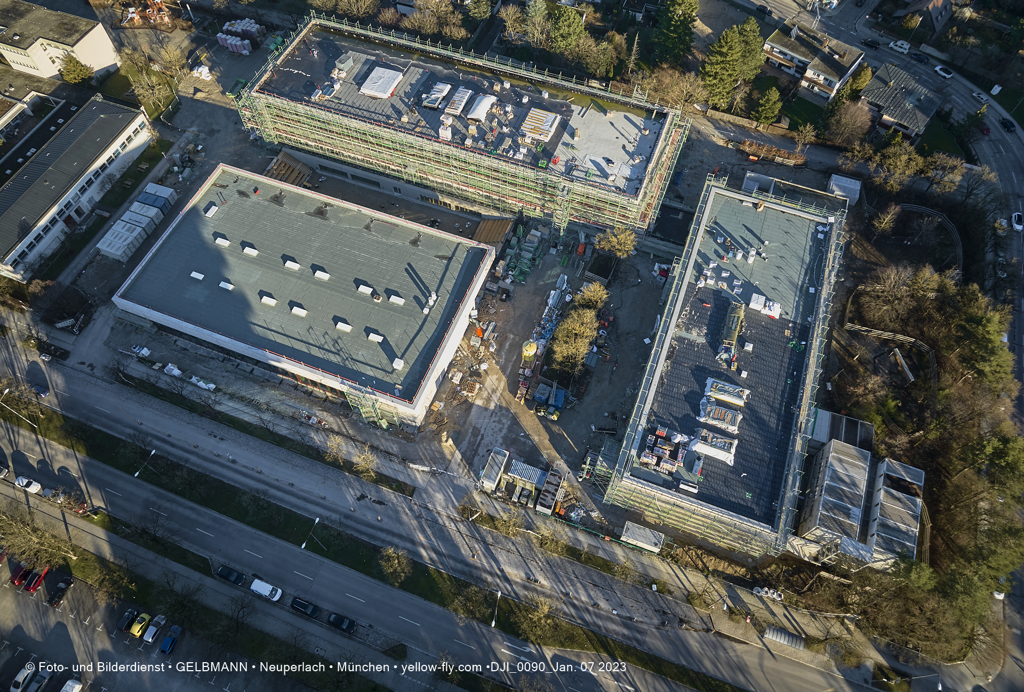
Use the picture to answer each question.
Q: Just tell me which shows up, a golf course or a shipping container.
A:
shipping container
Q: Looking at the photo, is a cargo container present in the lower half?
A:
Yes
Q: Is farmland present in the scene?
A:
No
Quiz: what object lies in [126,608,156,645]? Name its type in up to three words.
car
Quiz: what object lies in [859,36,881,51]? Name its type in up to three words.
vehicle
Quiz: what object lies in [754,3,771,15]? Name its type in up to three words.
vehicle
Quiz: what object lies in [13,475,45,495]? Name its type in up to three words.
car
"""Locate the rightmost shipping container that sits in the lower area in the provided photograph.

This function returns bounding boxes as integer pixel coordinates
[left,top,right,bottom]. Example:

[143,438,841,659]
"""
[618,522,665,555]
